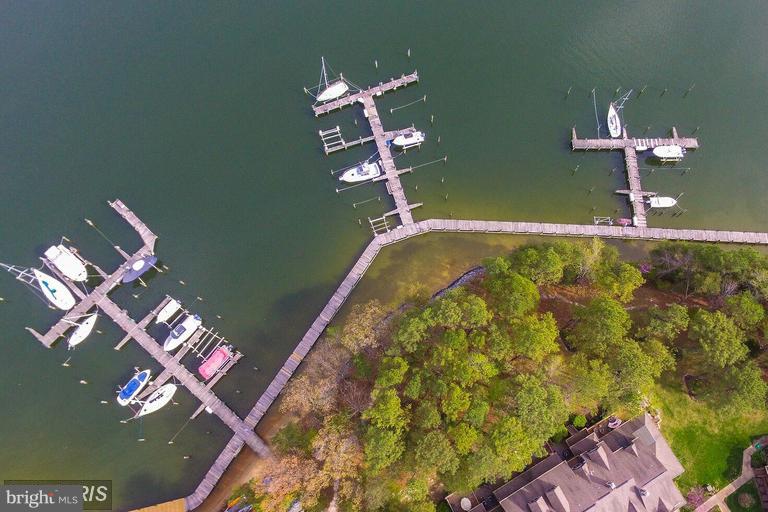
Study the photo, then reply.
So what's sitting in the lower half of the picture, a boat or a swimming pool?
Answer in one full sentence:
Visible in the lower half of the picture is a boat.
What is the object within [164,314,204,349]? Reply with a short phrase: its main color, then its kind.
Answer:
white boat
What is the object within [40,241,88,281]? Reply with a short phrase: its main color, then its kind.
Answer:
white boat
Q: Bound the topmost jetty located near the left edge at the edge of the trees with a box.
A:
[25,199,272,462]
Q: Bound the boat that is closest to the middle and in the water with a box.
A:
[336,164,385,181]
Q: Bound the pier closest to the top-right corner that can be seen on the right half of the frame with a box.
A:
[571,125,701,229]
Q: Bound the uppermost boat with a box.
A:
[316,58,349,102]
